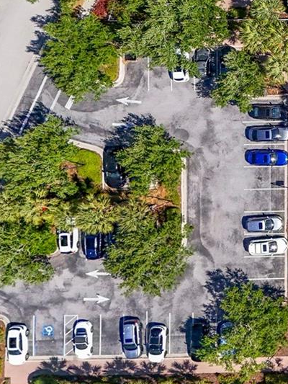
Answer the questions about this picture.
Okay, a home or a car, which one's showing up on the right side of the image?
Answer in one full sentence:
Visible on the right side of the image is a car.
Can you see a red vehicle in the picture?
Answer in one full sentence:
No, I can't see a single red vehicle in this photo.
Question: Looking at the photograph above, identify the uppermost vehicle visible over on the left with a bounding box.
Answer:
[101,145,124,187]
